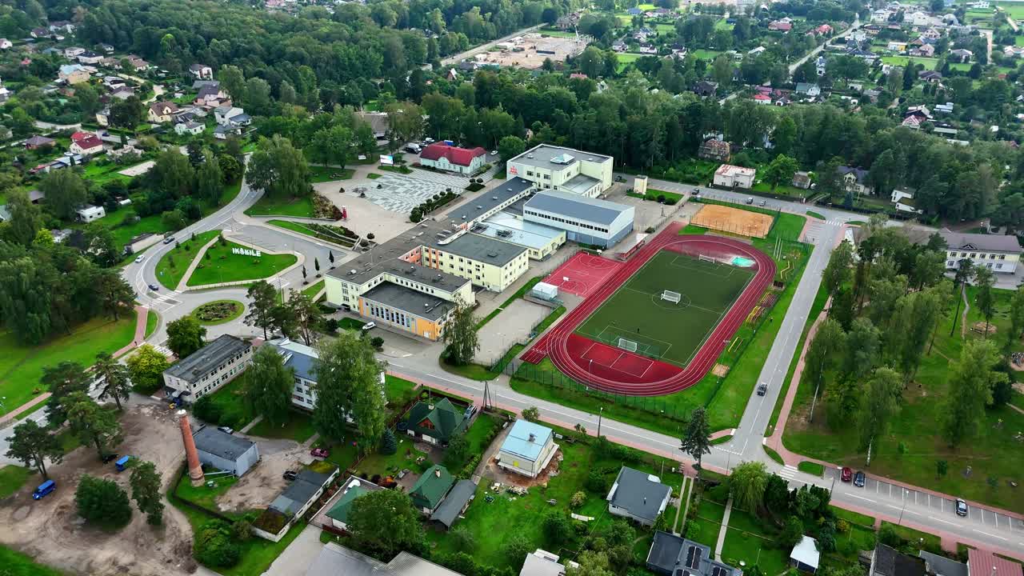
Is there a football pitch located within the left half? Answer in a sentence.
No, there's no football pitch to be seen within the left half.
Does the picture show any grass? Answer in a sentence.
Yes, grass shows up in the scene.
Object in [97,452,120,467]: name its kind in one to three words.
car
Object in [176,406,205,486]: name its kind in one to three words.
chimney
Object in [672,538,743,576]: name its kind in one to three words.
house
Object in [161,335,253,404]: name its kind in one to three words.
building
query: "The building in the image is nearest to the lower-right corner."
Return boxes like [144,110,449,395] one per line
[962,545,1017,576]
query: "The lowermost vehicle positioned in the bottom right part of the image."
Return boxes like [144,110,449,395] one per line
[955,495,968,514]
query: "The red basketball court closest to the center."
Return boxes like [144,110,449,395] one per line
[542,251,625,298]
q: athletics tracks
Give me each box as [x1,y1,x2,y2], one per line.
[519,221,776,394]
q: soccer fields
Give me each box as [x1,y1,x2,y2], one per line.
[574,250,757,367]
